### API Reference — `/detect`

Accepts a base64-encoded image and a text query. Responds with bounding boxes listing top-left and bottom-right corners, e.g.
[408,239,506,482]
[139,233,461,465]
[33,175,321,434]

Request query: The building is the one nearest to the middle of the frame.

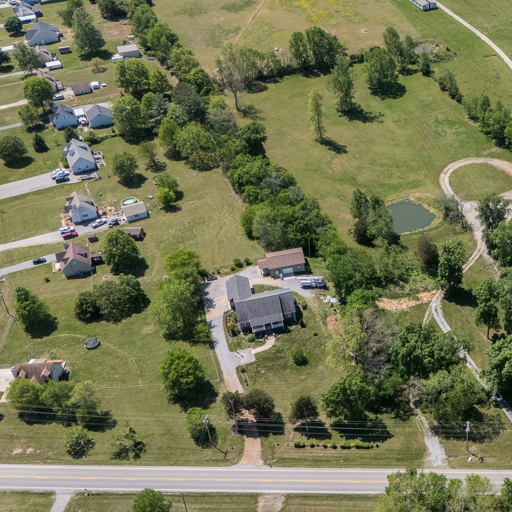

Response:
[255,249,306,278]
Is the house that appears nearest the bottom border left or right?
left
